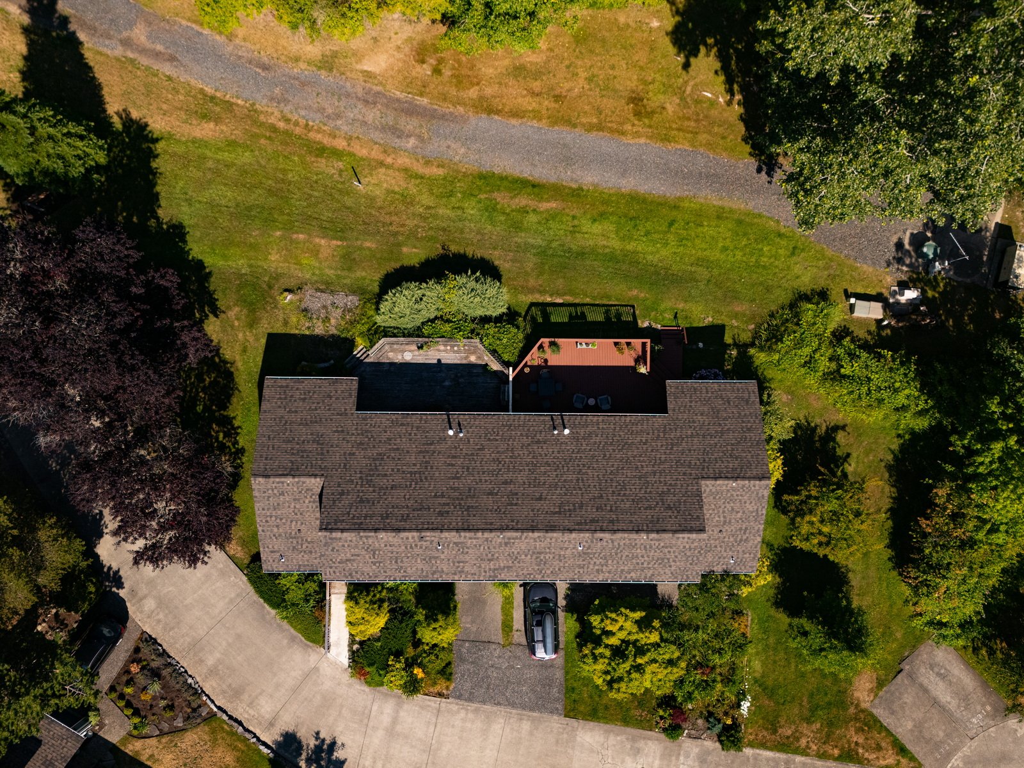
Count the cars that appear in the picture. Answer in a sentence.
My tally gives 2 cars in this view.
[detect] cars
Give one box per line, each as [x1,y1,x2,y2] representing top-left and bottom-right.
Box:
[65,597,140,681]
[520,585,563,662]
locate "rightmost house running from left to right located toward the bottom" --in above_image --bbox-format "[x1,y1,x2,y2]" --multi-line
[249,374,771,586]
